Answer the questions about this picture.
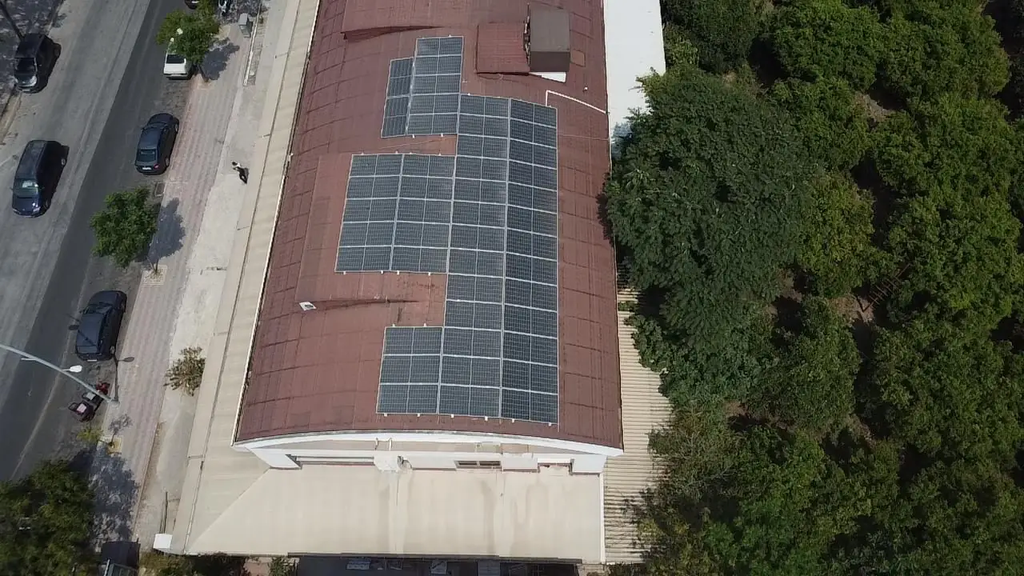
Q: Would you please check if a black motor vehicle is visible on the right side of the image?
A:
No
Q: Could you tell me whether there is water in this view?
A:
No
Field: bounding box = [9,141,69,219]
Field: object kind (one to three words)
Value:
car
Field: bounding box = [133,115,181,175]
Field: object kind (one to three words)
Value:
car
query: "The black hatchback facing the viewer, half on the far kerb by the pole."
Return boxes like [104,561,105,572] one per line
[12,45,60,101]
